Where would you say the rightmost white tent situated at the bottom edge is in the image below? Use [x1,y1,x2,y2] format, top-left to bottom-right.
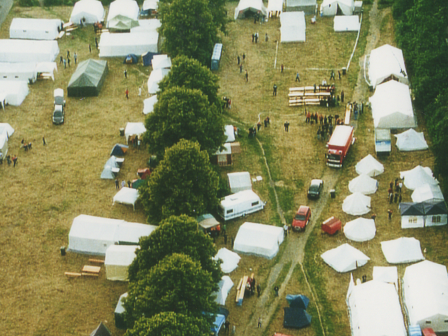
[400,259,448,332]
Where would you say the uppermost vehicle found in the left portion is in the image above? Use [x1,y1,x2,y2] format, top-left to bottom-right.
[52,87,65,106]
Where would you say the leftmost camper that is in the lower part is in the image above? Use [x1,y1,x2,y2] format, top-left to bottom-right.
[223,193,269,218]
